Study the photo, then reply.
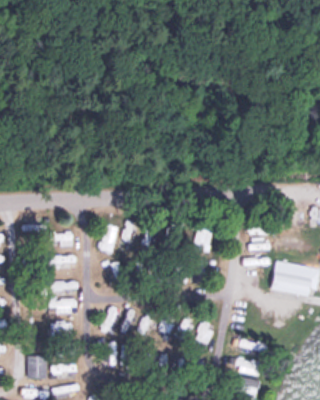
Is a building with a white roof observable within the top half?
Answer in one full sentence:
No, there's no building with a white roof to be seen within the top half.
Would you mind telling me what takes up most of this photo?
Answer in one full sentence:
The largest share of the image is taken up by trees.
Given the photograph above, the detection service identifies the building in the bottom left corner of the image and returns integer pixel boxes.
[28,356,48,379]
